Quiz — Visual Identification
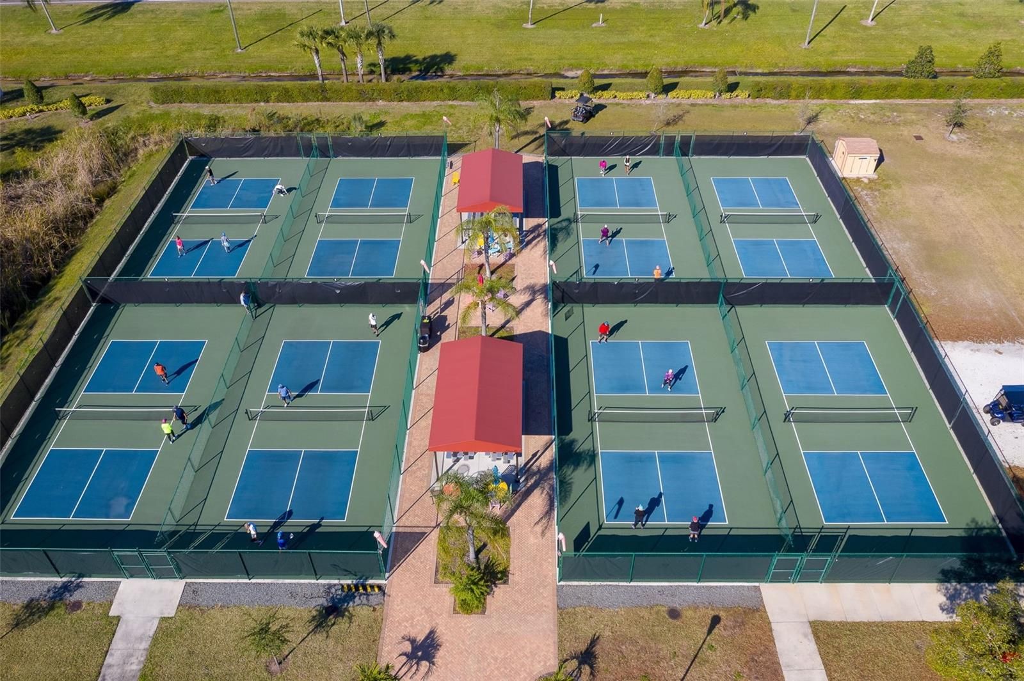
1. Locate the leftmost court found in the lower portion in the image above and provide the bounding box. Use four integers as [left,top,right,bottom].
[0,304,261,574]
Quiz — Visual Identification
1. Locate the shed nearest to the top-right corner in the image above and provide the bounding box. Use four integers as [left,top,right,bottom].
[831,133,883,176]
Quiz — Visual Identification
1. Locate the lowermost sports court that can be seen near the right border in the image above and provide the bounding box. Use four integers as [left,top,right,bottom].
[717,305,1020,580]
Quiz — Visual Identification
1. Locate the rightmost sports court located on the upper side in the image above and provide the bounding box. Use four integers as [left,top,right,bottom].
[676,157,883,305]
